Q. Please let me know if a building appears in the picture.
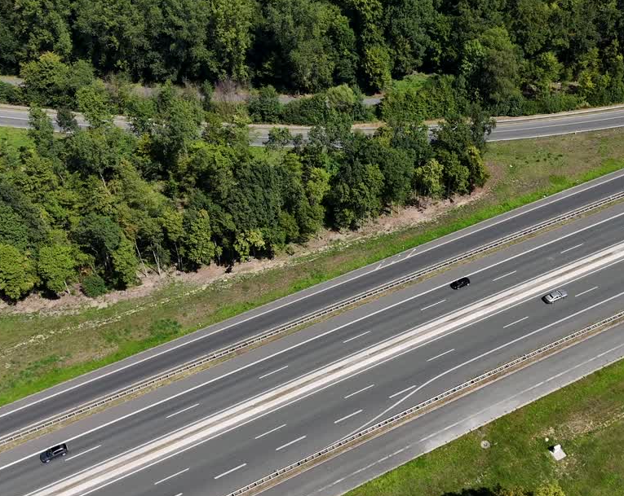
No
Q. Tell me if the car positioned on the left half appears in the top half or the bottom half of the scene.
bottom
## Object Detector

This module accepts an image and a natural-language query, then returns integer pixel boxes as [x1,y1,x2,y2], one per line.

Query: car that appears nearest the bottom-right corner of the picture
[544,287,567,300]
